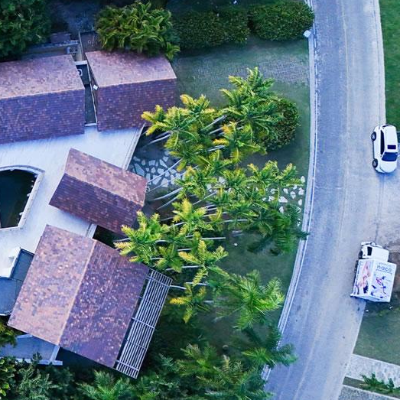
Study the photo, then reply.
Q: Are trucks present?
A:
Yes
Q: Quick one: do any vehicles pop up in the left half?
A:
No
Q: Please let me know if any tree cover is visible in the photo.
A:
Yes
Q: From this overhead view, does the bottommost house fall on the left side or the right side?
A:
left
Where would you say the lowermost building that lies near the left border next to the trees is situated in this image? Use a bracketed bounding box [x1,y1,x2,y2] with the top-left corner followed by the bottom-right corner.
[8,226,149,368]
